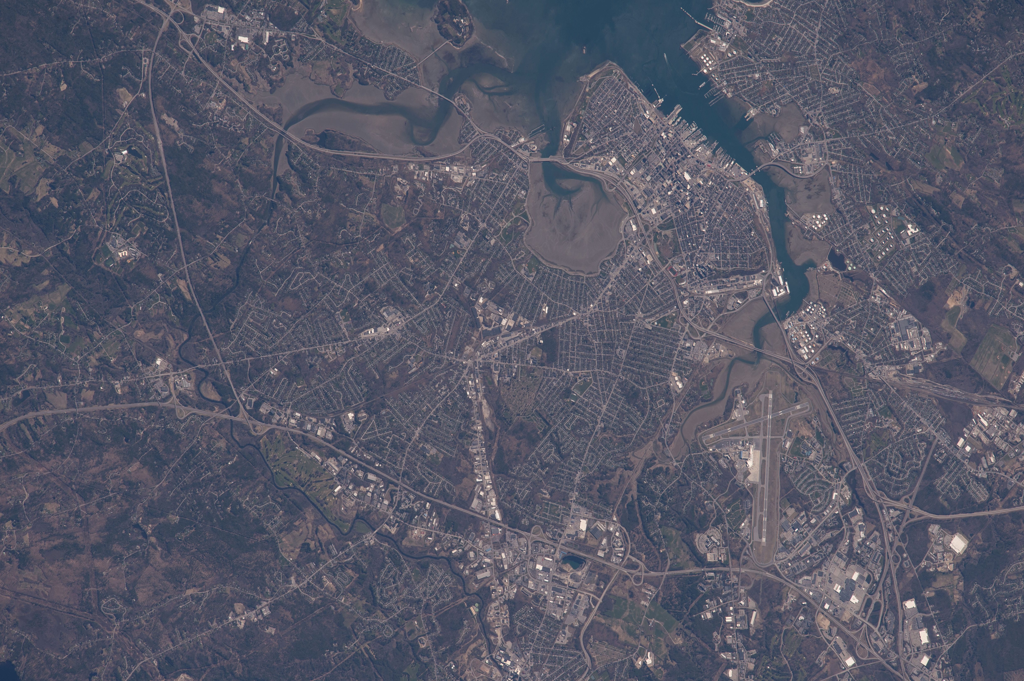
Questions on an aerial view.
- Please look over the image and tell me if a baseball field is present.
Yes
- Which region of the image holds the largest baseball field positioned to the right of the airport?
right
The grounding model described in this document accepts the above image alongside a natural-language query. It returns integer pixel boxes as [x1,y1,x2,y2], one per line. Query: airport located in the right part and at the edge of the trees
[700,371,812,564]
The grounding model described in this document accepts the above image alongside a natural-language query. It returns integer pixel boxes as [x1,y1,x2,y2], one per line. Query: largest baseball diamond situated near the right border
[974,341,1017,385]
